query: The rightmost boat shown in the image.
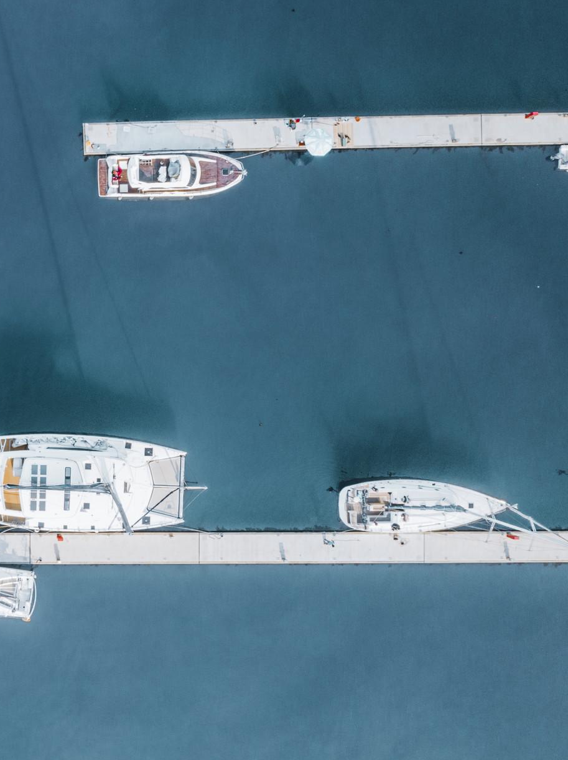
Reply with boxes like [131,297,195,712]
[547,145,568,170]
